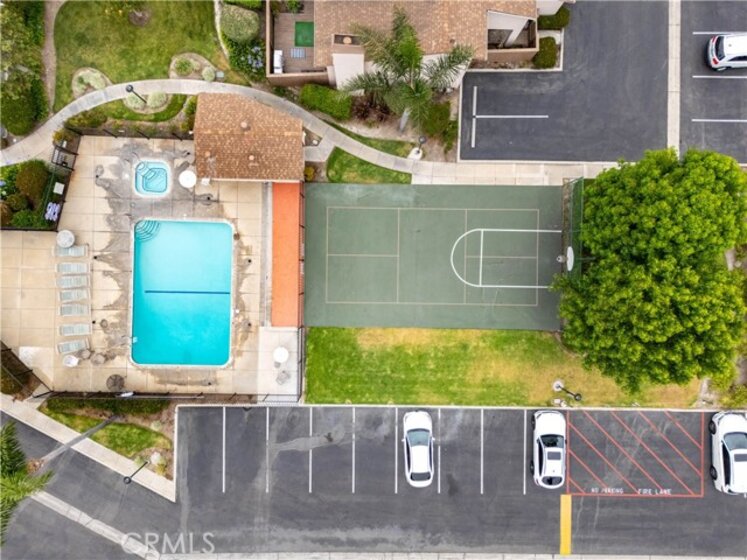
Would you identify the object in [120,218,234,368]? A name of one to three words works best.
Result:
swimming pool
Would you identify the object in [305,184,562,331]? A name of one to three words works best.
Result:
sports court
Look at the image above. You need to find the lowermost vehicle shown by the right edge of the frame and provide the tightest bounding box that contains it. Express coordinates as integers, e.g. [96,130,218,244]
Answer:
[708,408,747,495]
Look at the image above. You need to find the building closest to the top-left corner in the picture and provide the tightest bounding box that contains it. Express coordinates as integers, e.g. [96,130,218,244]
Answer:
[193,94,304,184]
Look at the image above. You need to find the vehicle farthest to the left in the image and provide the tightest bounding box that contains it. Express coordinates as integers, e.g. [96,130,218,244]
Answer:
[400,409,437,491]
